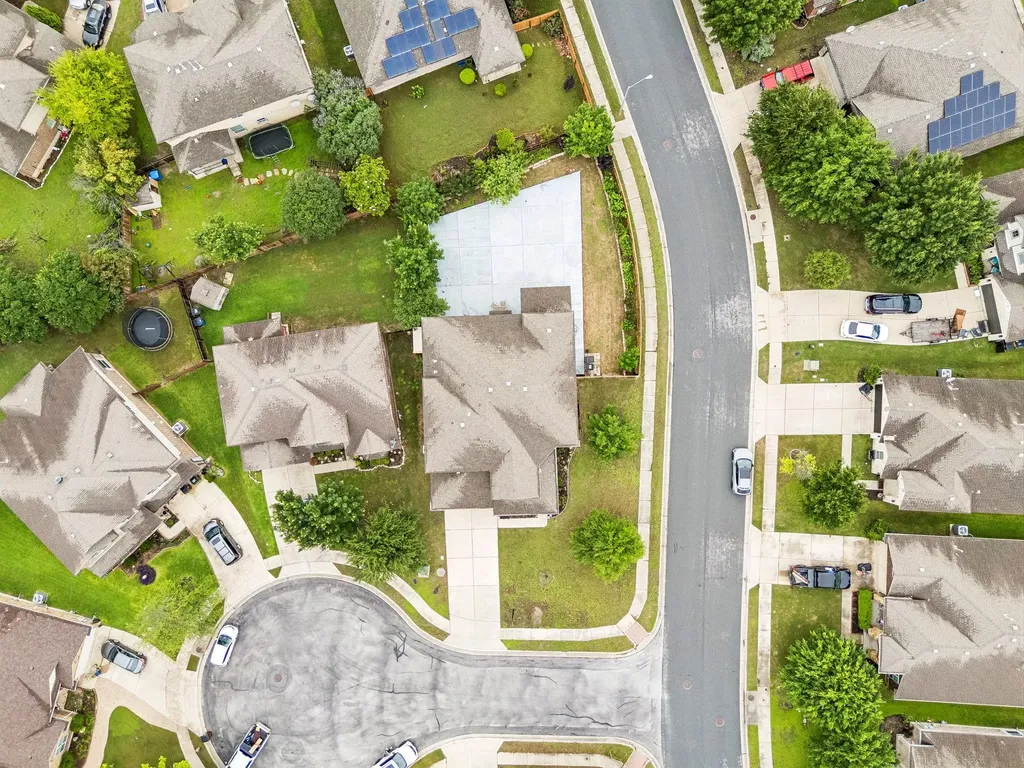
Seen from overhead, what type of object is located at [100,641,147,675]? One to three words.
car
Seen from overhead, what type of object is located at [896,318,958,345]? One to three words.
trailer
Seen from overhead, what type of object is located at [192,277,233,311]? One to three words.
shed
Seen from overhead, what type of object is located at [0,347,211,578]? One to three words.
house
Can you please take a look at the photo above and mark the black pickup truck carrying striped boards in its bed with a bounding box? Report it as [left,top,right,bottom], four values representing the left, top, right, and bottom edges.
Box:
[787,564,853,591]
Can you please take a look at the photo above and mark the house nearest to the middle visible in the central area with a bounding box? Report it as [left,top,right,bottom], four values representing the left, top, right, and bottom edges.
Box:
[412,286,579,517]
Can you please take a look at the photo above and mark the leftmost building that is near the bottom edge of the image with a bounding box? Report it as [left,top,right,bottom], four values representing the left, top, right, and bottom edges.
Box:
[0,595,108,768]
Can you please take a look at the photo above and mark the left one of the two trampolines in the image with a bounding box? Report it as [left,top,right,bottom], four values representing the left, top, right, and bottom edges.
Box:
[118,306,172,351]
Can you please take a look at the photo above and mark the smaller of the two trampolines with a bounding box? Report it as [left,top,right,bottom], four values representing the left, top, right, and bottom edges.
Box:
[244,120,295,163]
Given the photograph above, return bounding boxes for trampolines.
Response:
[244,120,295,163]
[118,306,172,351]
